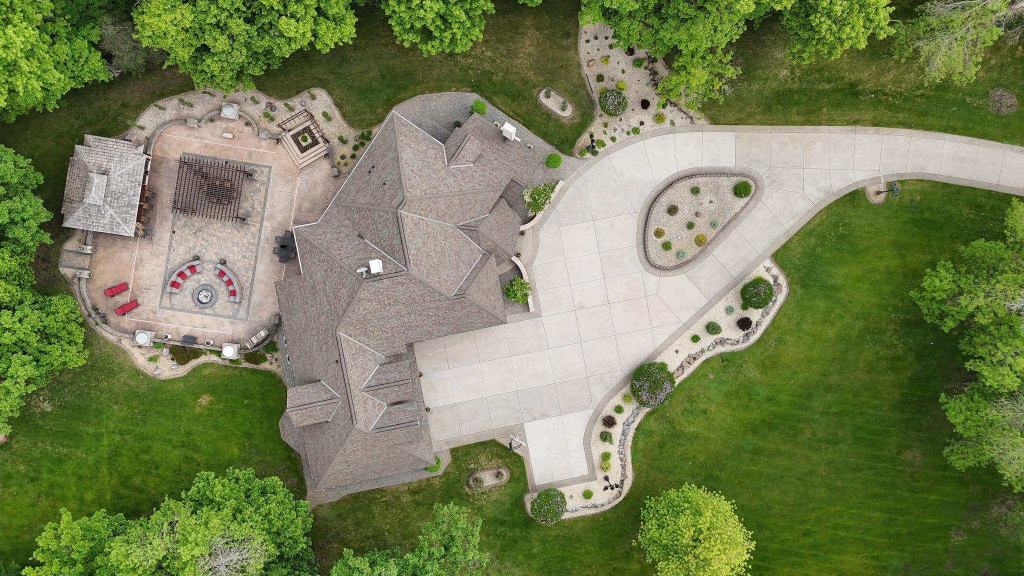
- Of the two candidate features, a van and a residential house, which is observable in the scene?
residential house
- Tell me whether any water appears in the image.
No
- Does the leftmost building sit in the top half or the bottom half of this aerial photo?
top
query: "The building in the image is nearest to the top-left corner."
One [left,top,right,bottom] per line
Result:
[61,134,146,237]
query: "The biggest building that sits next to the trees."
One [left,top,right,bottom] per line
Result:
[275,110,542,492]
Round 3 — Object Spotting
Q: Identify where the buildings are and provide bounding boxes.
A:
[61,134,146,237]
[275,110,542,492]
